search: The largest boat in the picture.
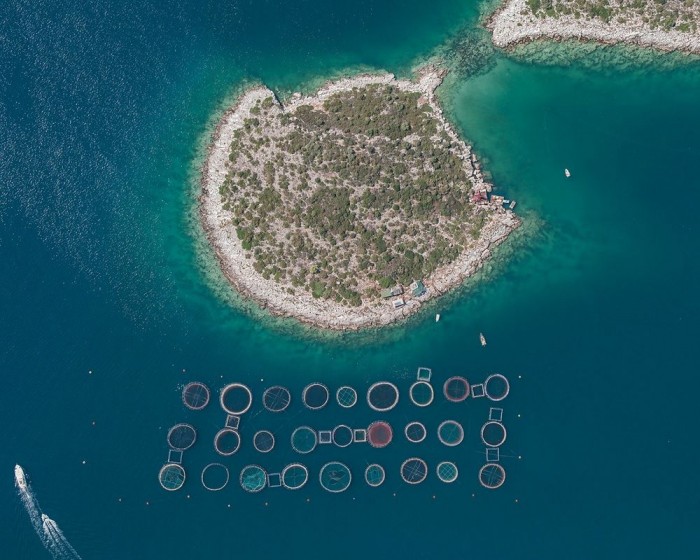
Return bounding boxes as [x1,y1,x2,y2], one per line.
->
[14,464,27,492]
